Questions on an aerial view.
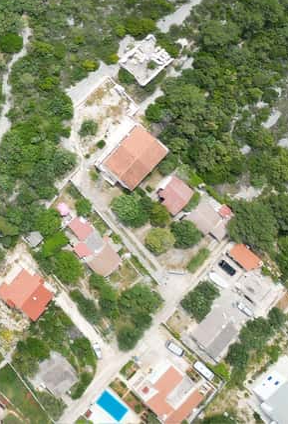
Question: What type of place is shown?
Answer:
residential area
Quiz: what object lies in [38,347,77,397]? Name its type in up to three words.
house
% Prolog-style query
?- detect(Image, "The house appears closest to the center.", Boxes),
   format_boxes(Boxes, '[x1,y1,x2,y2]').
[156,173,193,216]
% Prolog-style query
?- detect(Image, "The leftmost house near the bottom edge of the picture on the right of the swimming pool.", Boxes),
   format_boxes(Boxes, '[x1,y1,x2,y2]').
[144,362,206,424]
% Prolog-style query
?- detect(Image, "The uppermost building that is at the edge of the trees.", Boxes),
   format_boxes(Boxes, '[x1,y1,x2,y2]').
[92,120,169,190]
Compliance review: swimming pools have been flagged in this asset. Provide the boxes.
[93,387,129,424]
